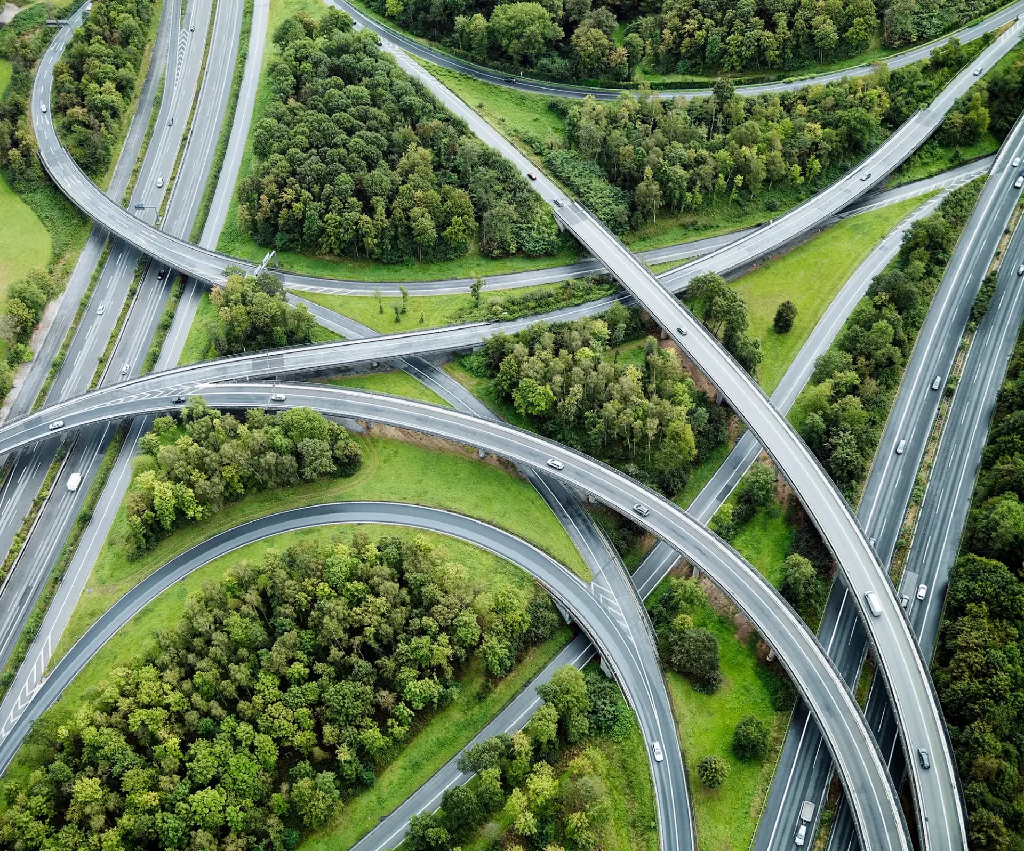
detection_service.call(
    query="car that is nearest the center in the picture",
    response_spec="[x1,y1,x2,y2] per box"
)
[546,458,565,470]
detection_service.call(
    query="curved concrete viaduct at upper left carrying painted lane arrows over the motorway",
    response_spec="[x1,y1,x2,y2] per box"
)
[41,145,244,286]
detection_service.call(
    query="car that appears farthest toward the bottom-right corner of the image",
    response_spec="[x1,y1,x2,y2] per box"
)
[918,748,931,770]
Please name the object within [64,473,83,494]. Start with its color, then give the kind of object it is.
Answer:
white vehicle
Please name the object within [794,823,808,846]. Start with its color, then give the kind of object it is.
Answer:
white car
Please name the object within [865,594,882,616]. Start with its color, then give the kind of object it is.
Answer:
white vehicle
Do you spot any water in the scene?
No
